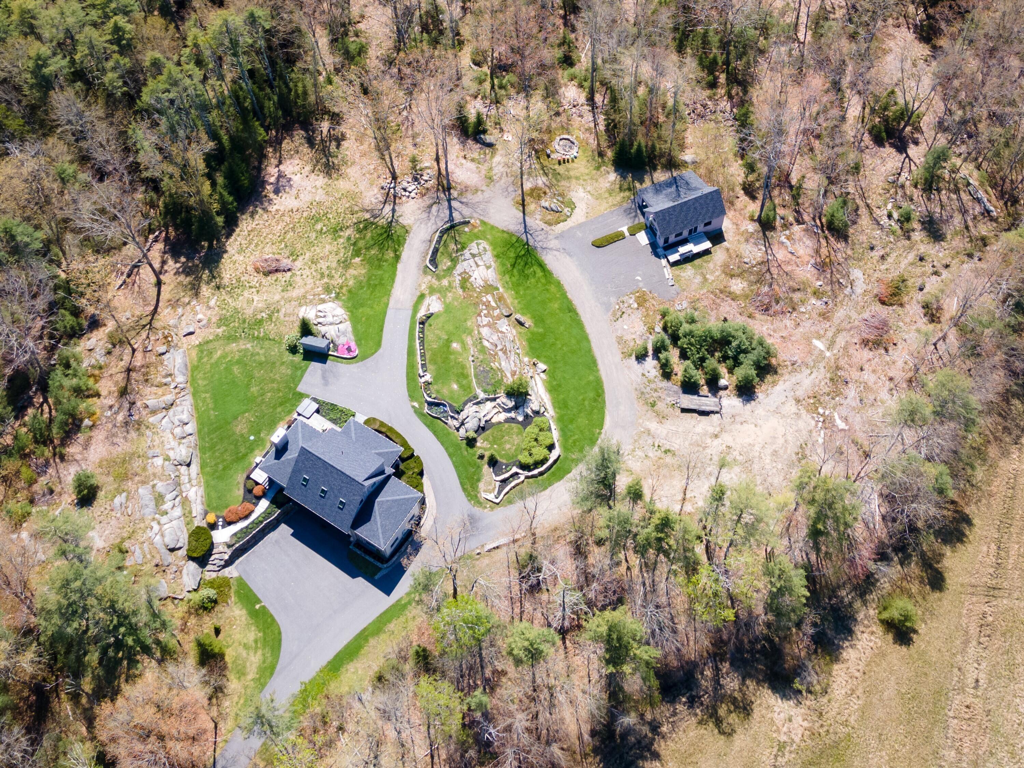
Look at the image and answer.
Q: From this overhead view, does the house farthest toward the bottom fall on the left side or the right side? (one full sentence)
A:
The house farthest toward the bottom is on the left side of the image.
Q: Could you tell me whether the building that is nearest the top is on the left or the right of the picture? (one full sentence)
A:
It is on the right.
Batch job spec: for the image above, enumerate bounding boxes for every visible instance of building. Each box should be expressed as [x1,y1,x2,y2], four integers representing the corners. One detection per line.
[257,417,424,559]
[637,170,726,246]
[299,332,329,356]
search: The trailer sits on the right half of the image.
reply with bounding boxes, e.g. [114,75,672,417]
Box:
[670,394,723,416]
